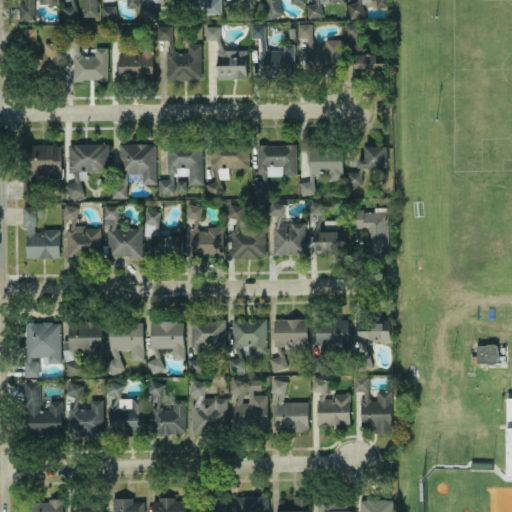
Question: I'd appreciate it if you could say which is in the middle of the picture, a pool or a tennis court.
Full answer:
Visible in the middle of the picture is a pool.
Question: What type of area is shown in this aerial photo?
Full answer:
This looks like a residential area.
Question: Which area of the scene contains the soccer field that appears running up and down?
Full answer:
Look in the top right portion of the view to spot the soccer field that appears running up and down.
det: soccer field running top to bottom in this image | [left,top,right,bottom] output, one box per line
[454,0,512,172]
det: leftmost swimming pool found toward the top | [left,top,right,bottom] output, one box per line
[38,5,59,22]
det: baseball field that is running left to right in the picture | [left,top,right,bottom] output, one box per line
[426,474,512,512]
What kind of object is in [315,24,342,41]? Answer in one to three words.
swimming pool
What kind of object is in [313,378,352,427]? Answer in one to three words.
house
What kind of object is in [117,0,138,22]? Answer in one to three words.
swimming pool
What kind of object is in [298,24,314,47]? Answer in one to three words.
building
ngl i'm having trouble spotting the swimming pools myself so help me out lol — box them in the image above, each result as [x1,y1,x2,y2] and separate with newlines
[366,9,388,20]
[315,24,342,41]
[124,204,140,227]
[268,28,286,47]
[124,381,144,399]
[222,25,249,46]
[374,344,392,370]
[199,206,221,228]
[117,0,138,22]
[80,204,102,226]
[284,0,303,20]
[164,204,182,228]
[370,376,389,398]
[285,202,307,220]
[128,183,154,200]
[42,384,64,399]
[164,352,186,376]
[38,5,59,22]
